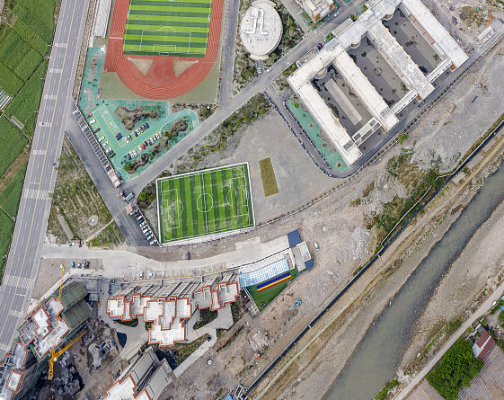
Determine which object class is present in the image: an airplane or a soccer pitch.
soccer pitch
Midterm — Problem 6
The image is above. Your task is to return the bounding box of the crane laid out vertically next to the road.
[47,263,86,380]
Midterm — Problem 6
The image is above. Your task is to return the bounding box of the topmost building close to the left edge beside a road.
[20,283,93,359]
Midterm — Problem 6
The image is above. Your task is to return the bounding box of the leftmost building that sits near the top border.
[240,0,285,61]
